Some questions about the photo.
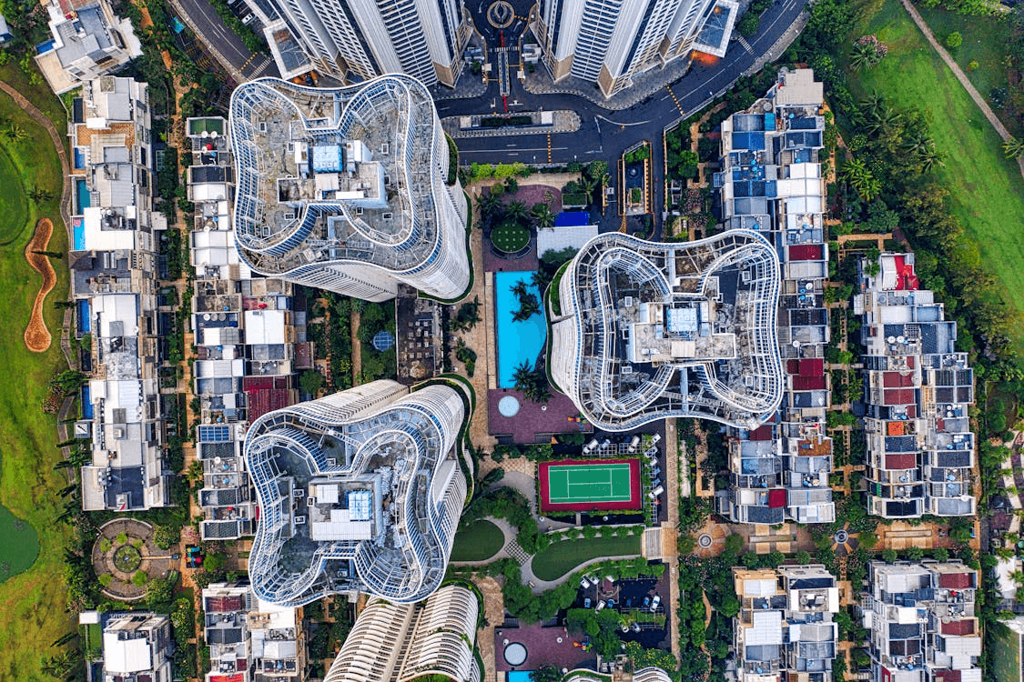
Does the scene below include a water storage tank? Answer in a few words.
Yes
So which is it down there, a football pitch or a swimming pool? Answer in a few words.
swimming pool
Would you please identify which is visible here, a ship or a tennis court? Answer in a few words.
tennis court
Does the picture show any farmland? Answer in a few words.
No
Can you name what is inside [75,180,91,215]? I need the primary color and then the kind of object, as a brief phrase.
blue swimming pool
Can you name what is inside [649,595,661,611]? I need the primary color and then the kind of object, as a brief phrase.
white vehicle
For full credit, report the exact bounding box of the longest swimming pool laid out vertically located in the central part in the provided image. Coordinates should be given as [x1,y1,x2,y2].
[496,271,546,387]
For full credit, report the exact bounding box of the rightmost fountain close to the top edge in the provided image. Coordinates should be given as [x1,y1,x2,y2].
[487,0,514,28]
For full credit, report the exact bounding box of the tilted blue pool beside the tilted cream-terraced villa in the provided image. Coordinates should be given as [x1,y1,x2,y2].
[36,38,58,55]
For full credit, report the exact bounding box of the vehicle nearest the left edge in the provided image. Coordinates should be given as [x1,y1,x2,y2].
[241,11,255,25]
